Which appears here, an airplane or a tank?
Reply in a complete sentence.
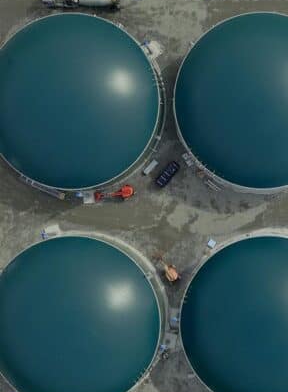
Of the two, only a tank appears.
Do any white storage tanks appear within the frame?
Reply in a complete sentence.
No, I can't see a single white storage tank in this photo.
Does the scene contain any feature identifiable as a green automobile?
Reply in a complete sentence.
No, there is no green automobile in the image.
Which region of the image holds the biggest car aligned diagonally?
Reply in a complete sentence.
You can find the biggest car aligned diagonally in the center area of the picture.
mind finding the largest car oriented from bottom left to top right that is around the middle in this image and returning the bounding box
[154,161,181,188]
